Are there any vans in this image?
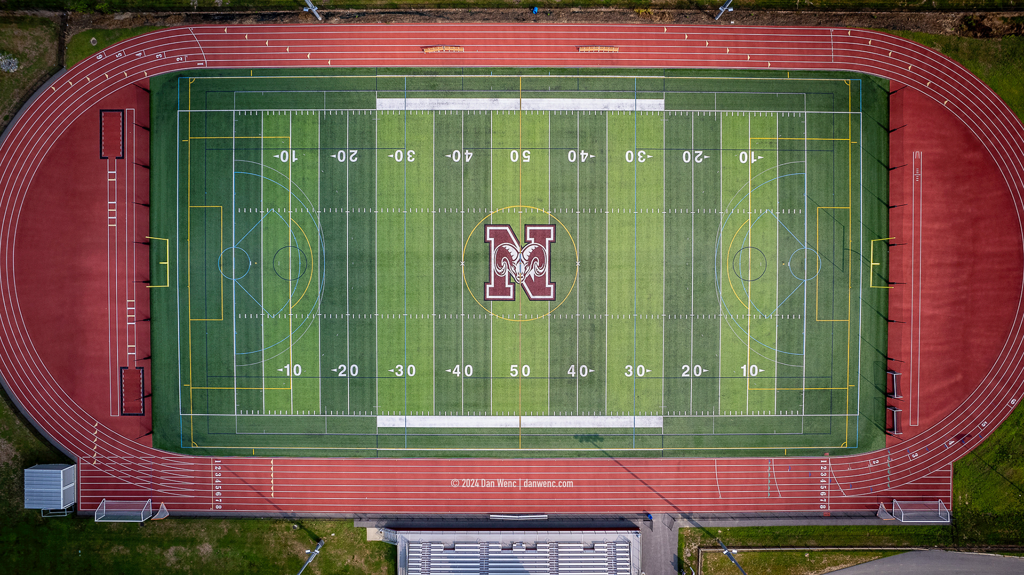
No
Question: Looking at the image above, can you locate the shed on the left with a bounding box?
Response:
[24,465,76,509]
